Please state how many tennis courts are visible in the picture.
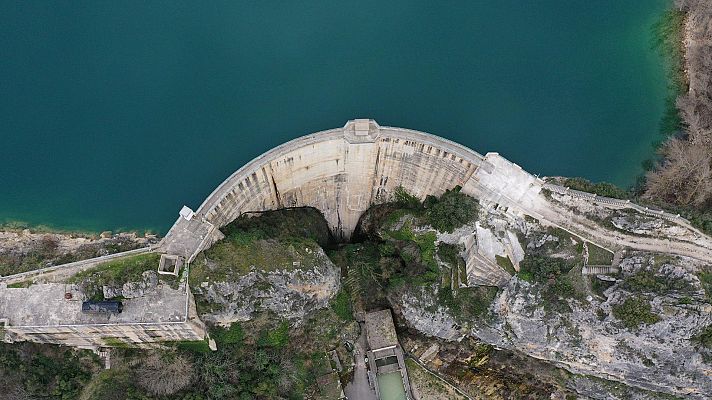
0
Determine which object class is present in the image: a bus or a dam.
dam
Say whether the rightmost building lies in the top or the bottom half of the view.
bottom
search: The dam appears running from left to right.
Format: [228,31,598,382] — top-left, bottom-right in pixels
[192,117,484,242]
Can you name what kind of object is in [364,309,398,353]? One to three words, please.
building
